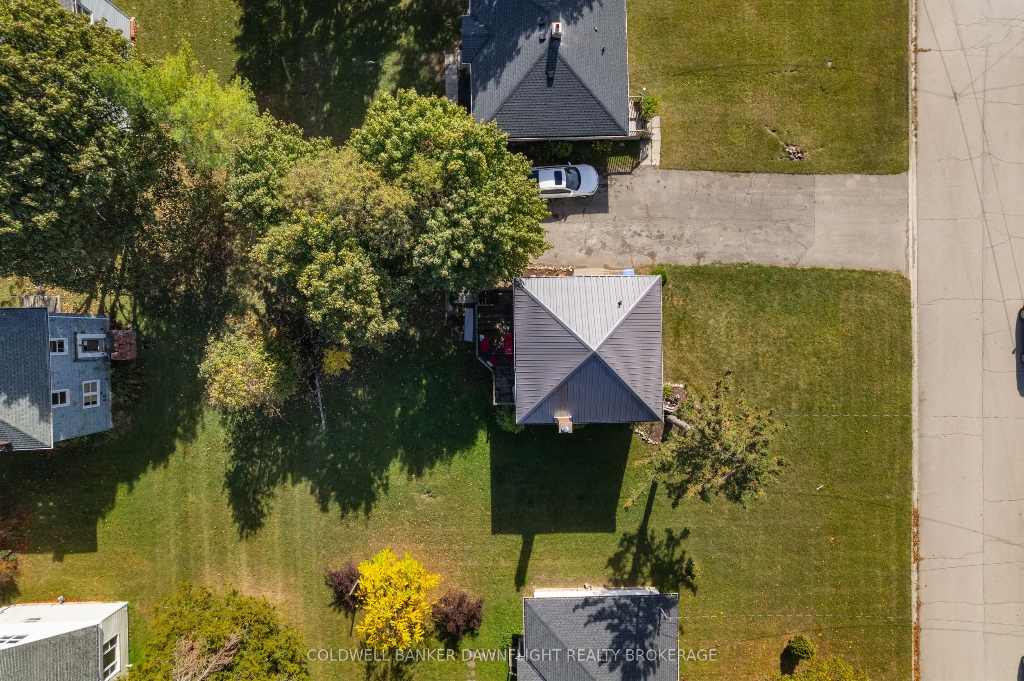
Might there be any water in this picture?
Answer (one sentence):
No, there is no water in the image.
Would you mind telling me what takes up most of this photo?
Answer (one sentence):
The bulk of the photo consists of grass.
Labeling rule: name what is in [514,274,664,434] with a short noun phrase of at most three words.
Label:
house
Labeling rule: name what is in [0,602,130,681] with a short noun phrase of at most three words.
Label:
house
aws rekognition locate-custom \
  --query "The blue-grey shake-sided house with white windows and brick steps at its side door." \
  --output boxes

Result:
[0,304,114,451]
